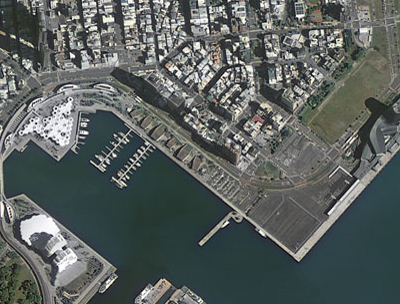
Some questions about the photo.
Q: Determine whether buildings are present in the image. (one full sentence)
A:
Yes, a building can be made out from above.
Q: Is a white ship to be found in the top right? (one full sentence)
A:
No, I see no white ship in the top right.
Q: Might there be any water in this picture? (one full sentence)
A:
Yes, some water is visible.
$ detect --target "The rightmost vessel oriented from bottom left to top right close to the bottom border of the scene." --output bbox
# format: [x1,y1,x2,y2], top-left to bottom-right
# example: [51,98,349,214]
[136,283,151,303]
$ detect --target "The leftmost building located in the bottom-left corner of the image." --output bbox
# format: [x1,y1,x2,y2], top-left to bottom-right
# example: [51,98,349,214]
[20,215,87,285]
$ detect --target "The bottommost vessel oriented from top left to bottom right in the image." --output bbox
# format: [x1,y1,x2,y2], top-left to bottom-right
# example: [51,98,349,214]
[182,285,207,304]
